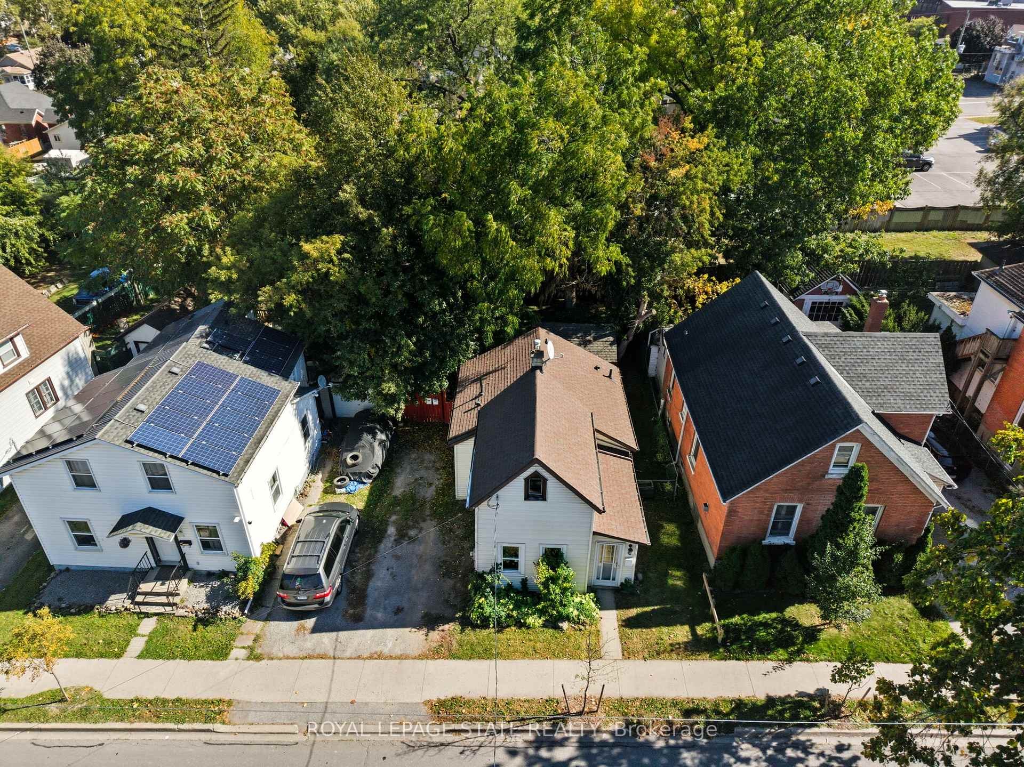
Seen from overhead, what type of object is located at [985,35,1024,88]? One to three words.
house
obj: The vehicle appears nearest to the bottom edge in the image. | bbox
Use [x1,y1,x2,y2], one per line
[283,505,357,612]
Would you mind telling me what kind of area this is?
residential area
